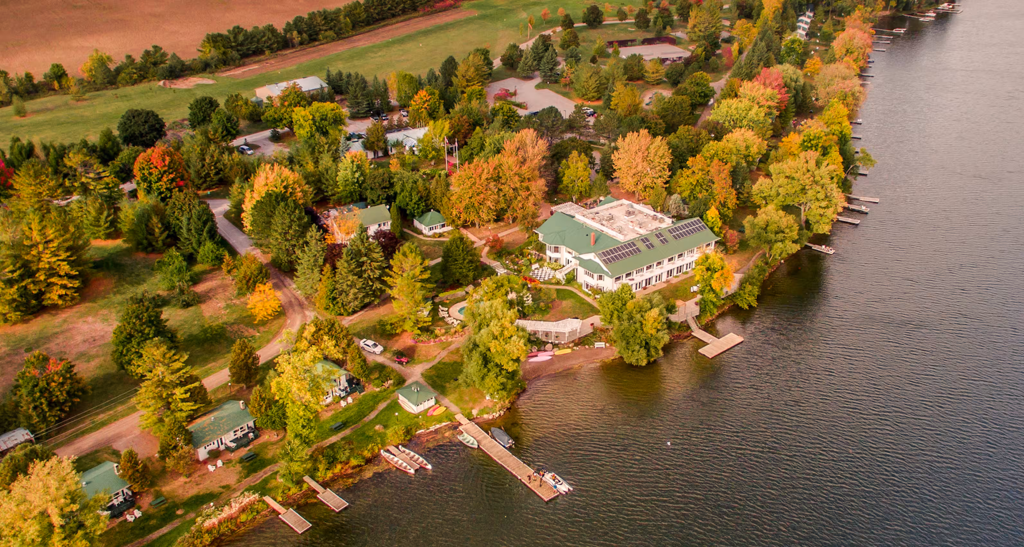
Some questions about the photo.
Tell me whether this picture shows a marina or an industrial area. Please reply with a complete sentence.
This looks like a marina.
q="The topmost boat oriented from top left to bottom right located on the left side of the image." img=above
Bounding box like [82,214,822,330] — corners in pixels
[395,401,418,415]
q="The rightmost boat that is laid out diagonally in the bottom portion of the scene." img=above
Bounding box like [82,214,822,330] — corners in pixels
[543,466,575,494]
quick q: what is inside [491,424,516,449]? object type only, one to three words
boat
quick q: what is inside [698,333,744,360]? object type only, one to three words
pier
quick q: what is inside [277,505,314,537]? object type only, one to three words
pier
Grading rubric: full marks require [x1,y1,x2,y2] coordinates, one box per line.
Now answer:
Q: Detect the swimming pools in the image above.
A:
[445,298,490,320]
